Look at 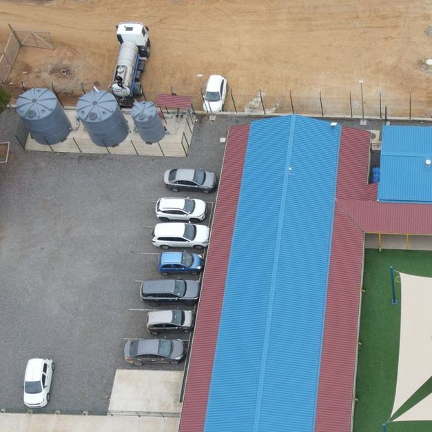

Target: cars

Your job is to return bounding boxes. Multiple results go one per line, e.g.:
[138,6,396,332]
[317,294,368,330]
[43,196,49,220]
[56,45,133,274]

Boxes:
[19,358,57,409]
[152,195,209,224]
[144,308,197,336]
[149,223,210,252]
[124,337,189,367]
[199,72,229,116]
[162,168,219,195]
[157,250,206,277]
[136,278,201,308]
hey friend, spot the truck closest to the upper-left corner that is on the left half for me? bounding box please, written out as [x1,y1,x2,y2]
[115,23,158,102]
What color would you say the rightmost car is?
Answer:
white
